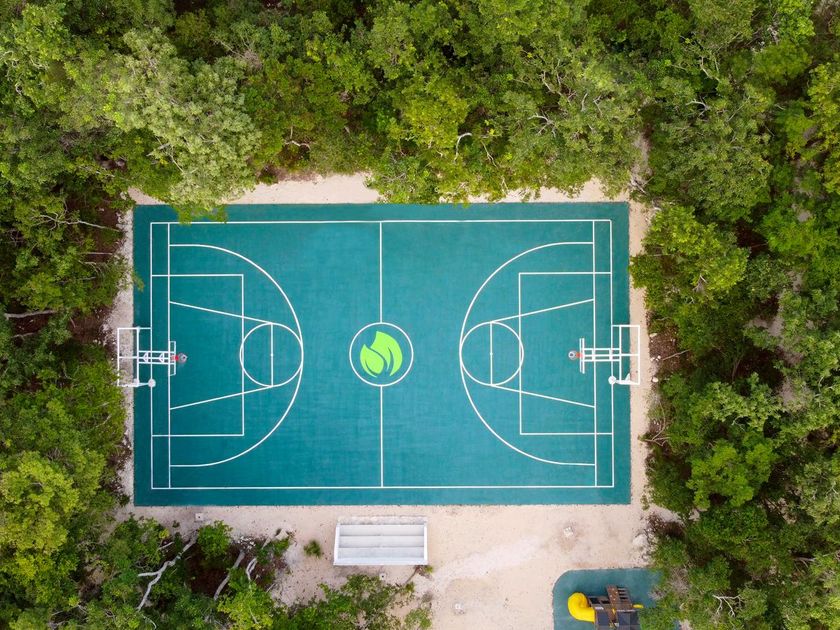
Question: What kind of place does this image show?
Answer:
sports ground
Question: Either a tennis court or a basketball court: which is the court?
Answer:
basketball court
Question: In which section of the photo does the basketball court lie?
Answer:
center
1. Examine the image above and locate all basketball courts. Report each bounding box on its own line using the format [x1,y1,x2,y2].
[133,202,631,507]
